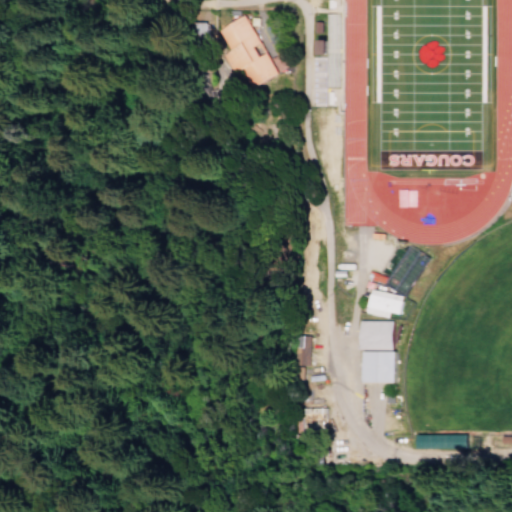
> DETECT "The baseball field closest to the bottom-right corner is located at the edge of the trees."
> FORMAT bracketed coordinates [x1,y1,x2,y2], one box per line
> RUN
[406,224,512,434]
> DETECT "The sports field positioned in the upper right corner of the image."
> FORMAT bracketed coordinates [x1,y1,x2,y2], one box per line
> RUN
[368,0,496,178]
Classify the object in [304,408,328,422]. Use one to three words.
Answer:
shed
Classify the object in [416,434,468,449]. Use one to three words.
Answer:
barn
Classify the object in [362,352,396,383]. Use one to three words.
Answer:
building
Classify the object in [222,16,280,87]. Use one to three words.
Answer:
house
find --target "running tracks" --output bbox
[346,0,512,247]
